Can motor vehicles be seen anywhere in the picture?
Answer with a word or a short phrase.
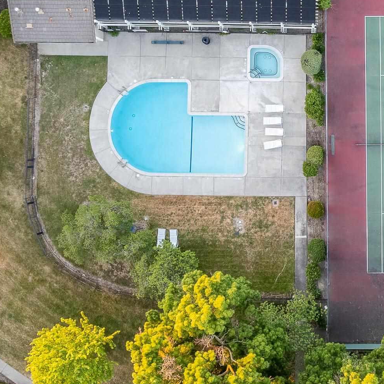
No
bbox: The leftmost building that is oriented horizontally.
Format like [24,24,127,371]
[8,0,109,43]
